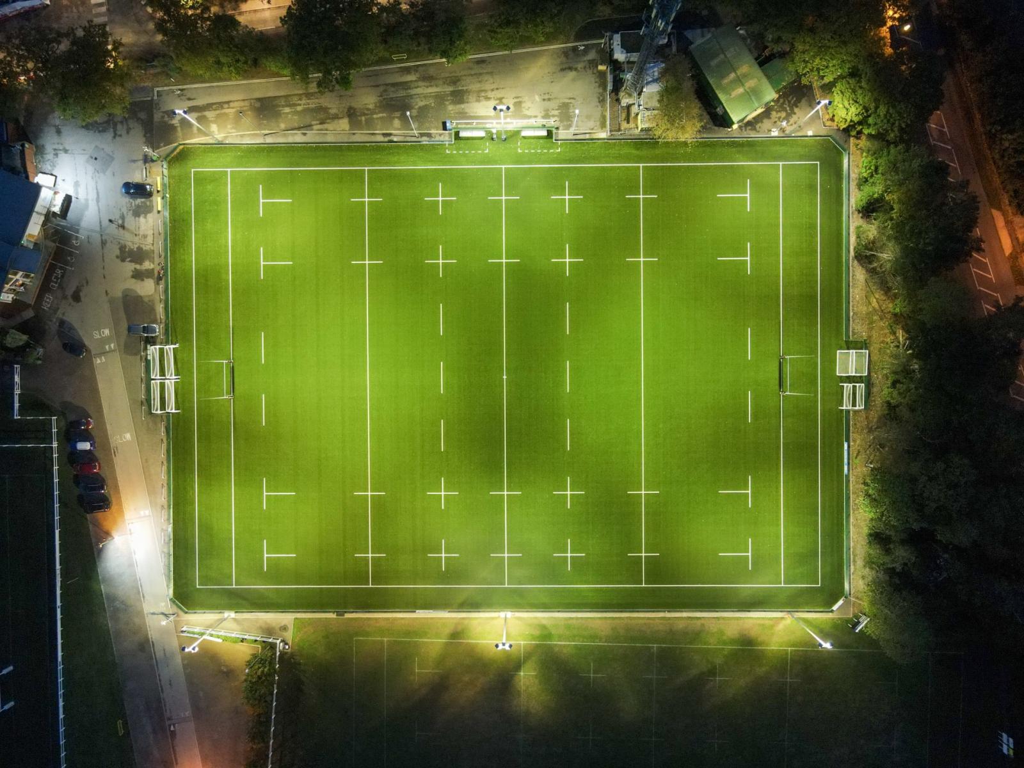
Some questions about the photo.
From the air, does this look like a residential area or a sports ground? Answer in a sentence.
It's a sports ground.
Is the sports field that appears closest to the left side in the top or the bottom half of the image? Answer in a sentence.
It is in the bottom half that the sports field that appears closest to the left side appears.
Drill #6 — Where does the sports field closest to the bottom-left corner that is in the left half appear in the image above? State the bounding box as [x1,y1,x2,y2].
[0,446,63,768]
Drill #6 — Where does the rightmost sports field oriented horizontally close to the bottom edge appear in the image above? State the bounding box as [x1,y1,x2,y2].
[272,618,1024,768]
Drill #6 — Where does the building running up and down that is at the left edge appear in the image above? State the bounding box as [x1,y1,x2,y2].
[0,169,64,311]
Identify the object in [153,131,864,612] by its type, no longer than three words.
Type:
sports field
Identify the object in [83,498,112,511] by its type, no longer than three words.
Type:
vehicle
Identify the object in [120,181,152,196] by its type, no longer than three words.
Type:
car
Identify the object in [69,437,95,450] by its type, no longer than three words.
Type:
vehicle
